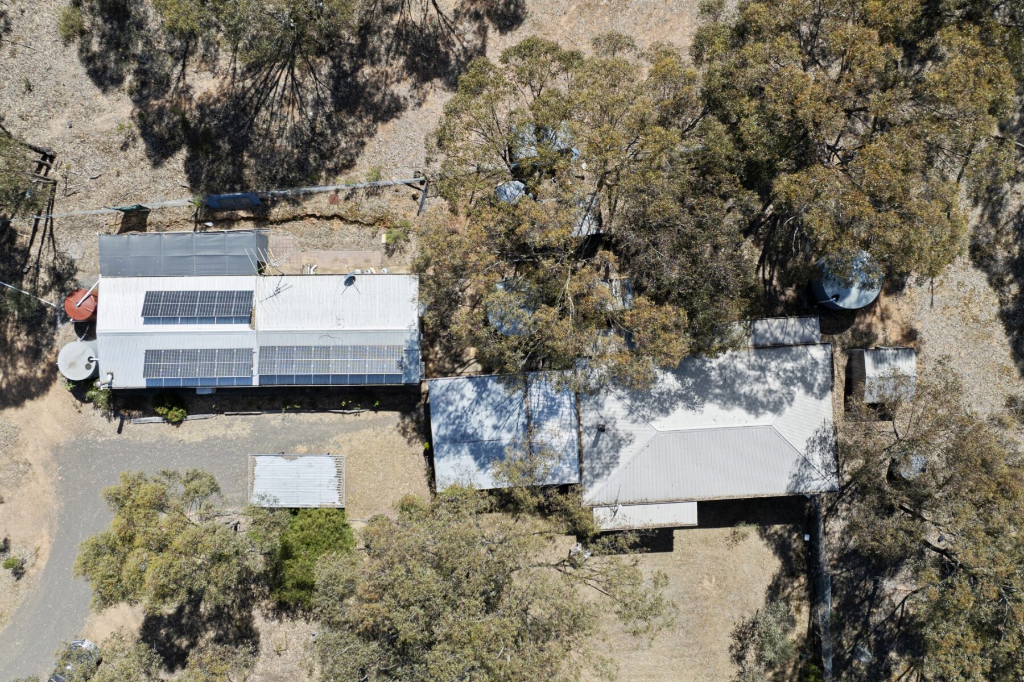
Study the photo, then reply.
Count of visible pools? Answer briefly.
0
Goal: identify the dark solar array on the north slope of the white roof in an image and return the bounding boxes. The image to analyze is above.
[141,291,254,316]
